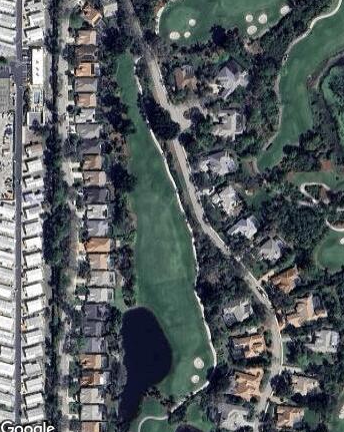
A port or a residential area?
residential area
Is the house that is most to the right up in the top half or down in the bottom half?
bottom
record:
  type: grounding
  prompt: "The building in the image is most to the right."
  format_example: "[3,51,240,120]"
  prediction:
[311,331,339,352]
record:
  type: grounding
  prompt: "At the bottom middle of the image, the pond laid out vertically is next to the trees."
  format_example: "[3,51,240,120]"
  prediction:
[119,306,173,422]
